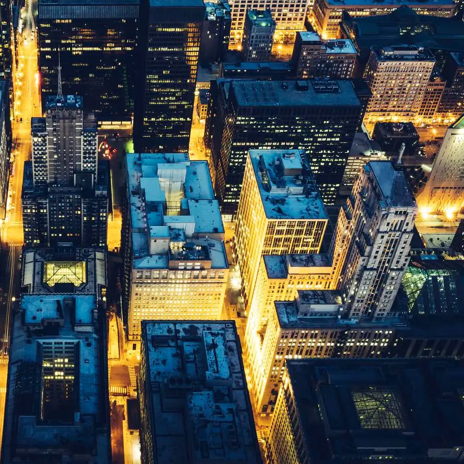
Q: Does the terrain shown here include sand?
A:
No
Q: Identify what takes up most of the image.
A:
buildings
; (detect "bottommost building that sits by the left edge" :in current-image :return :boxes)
[1,294,114,464]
